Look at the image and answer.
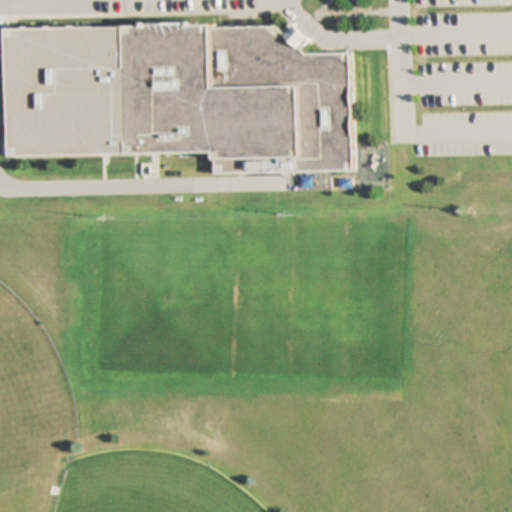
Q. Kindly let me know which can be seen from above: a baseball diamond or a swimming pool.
baseball diamond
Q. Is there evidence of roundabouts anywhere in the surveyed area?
No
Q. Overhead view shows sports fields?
Yes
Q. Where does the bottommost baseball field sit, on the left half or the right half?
left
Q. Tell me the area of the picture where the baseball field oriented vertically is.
bottom left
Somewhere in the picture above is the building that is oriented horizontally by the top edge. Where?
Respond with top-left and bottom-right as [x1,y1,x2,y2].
[0,22,358,174]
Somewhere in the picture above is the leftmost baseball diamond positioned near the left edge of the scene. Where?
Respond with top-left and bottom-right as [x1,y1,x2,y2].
[0,284,76,512]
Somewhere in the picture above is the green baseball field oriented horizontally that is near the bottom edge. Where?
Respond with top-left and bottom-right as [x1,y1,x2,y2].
[56,448,268,512]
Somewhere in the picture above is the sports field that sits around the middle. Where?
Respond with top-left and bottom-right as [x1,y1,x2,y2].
[62,214,415,401]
